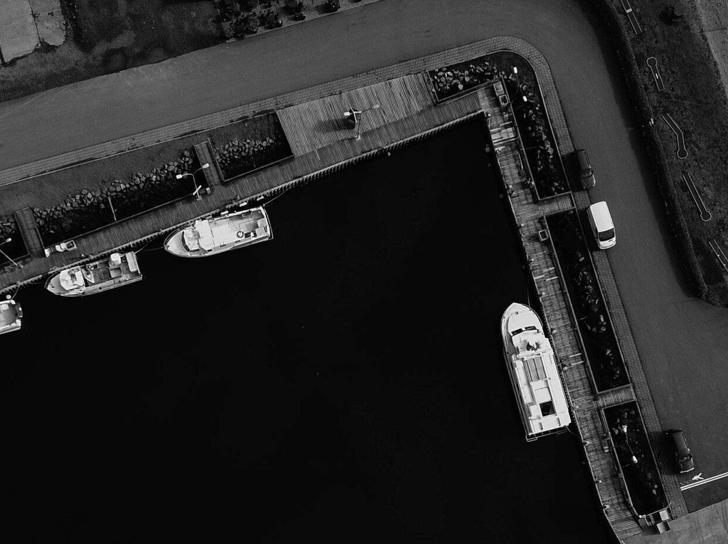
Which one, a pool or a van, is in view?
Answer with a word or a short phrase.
van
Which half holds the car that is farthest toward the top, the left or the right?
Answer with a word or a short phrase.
right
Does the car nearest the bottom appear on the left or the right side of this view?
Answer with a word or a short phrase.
right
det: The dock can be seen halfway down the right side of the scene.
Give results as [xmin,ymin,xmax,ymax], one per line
[477,77,643,543]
